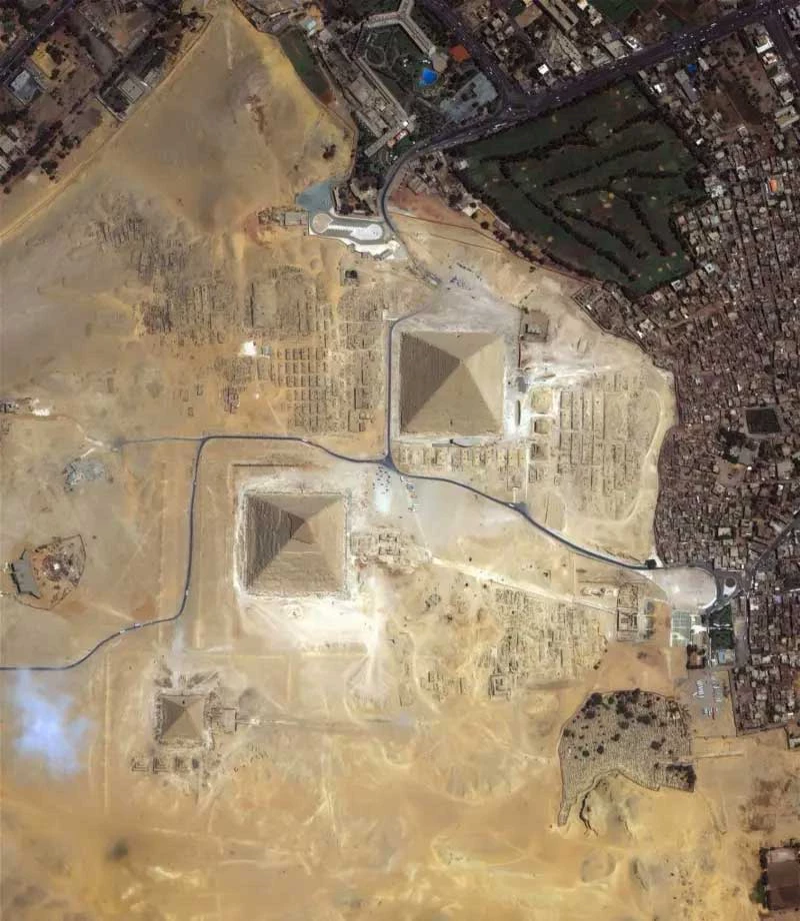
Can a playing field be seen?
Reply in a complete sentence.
Yes, the image includes a playing field.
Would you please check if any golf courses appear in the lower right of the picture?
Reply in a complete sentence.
No, no golf course is visible in the lower right of the picture.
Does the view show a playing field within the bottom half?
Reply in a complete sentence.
No, the scene shows no playing field within the bottom half.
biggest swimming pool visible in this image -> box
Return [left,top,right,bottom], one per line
[419,67,440,86]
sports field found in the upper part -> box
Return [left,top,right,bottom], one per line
[280,26,332,103]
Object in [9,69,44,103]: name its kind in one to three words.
building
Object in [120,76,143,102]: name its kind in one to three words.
house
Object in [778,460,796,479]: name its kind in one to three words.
building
